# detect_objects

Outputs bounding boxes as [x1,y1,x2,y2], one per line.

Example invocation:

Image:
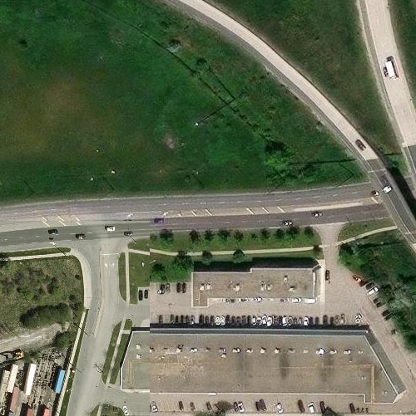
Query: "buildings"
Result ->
[193,264,322,307]
[120,326,406,403]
